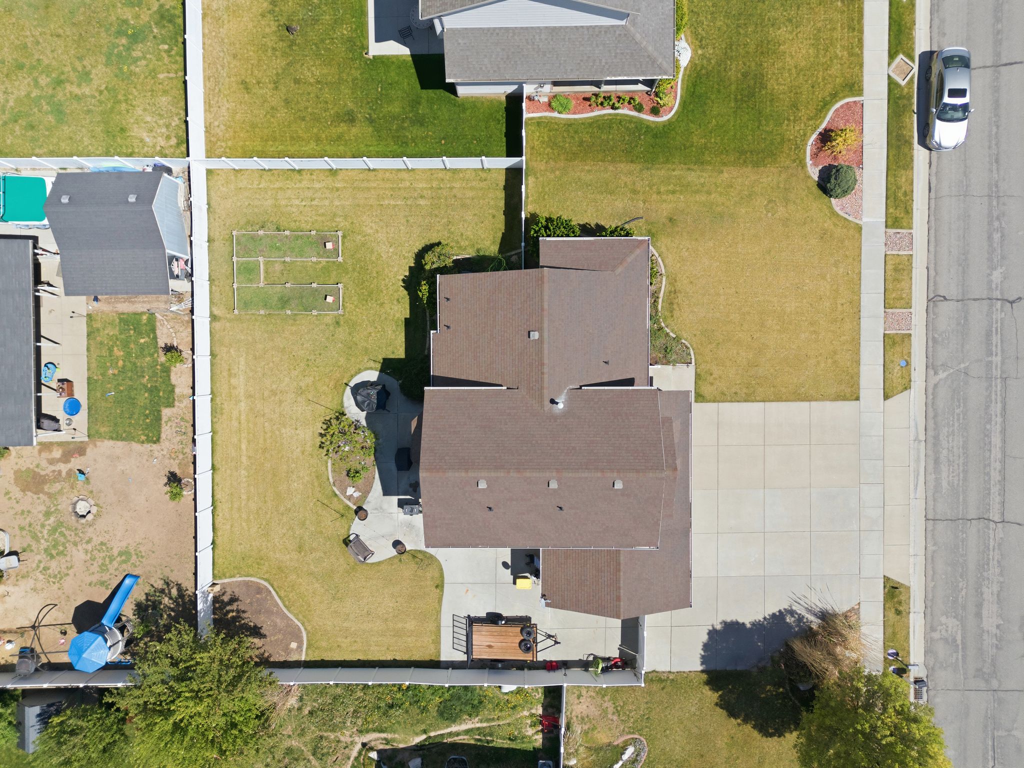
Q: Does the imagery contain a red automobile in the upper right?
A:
No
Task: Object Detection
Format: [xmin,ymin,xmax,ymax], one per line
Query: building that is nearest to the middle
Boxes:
[413,235,695,620]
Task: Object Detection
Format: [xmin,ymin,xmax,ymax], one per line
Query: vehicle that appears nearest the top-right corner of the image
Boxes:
[921,49,977,152]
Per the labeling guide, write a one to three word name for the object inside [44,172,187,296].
shed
